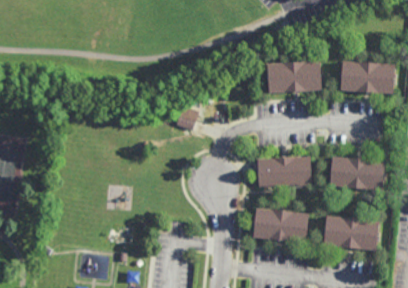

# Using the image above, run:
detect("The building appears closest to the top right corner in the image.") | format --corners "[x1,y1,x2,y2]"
[340,62,396,94]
